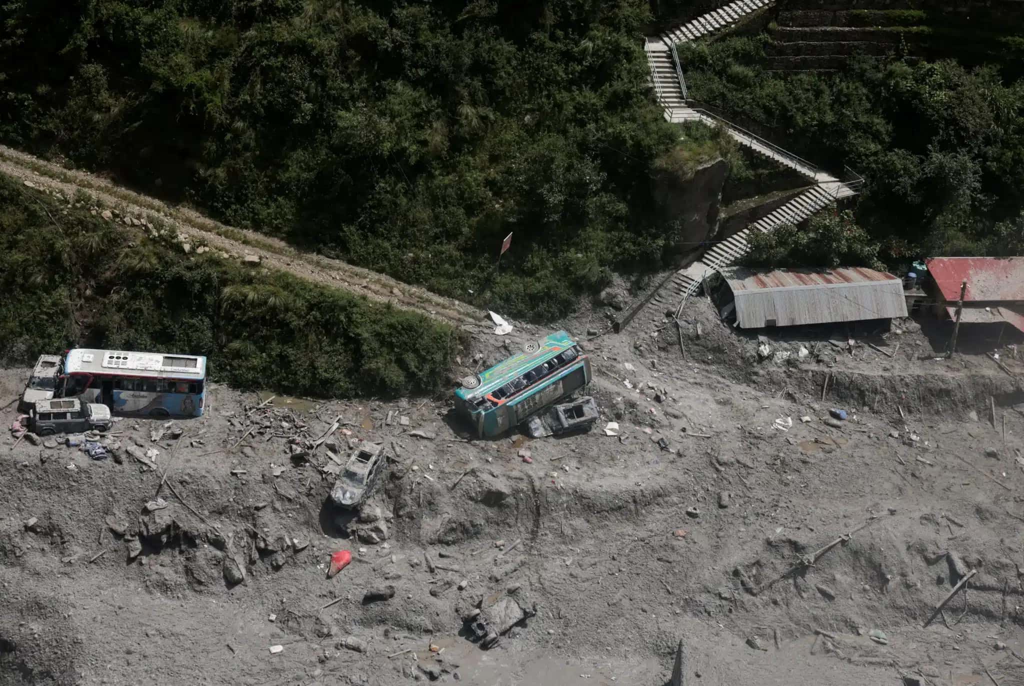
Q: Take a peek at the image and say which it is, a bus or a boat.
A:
bus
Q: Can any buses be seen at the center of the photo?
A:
Yes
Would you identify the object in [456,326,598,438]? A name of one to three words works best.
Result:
bus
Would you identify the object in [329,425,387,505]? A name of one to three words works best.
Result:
car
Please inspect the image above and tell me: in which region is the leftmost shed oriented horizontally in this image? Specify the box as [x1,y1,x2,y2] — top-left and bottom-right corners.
[718,268,908,340]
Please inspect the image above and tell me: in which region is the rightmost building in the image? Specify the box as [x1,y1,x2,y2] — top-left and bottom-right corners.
[927,255,1024,342]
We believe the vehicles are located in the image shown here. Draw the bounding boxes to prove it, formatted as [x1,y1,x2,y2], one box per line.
[523,392,601,443]
[27,396,113,436]
[59,353,212,413]
[329,425,387,505]
[456,326,598,438]
[13,355,64,416]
